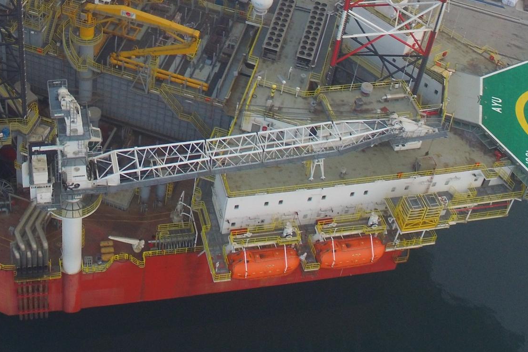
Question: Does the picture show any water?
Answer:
Yes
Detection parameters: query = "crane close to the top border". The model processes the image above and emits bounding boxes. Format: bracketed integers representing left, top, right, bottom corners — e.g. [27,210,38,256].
[52,0,198,110]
